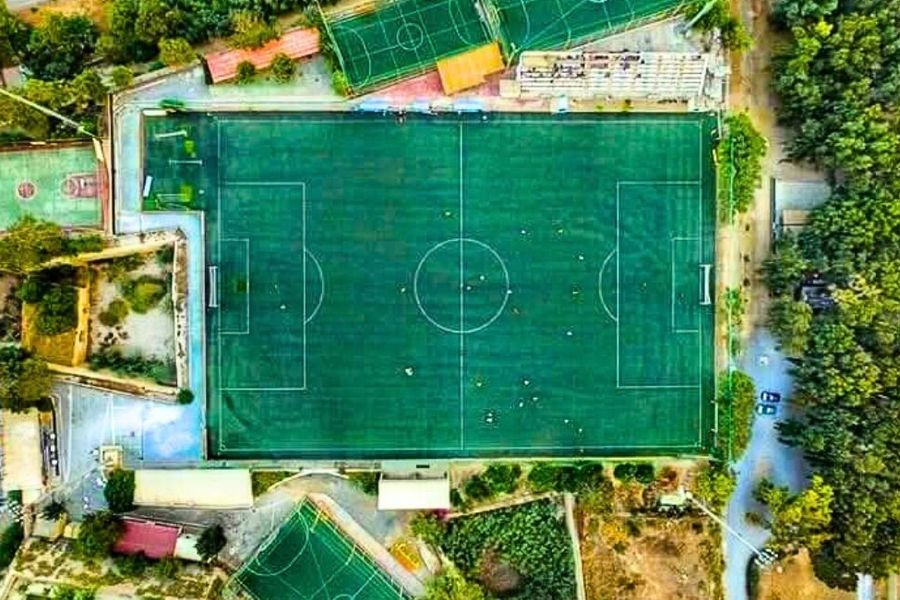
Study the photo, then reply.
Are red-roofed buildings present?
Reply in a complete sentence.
Yes, I can see a red-roofed building in this picture.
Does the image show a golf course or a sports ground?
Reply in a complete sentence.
This image shows a sports ground.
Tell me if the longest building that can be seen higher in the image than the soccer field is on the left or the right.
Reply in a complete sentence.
You can find the longest building that can be seen higher in the image than the soccer field on the left side of the picture.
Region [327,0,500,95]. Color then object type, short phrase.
green sports court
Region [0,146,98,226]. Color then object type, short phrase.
green basketball court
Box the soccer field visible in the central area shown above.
[146,115,717,460]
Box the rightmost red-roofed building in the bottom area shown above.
[114,512,185,560]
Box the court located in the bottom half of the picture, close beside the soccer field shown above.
[225,496,413,600]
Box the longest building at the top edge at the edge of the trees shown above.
[205,28,323,88]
